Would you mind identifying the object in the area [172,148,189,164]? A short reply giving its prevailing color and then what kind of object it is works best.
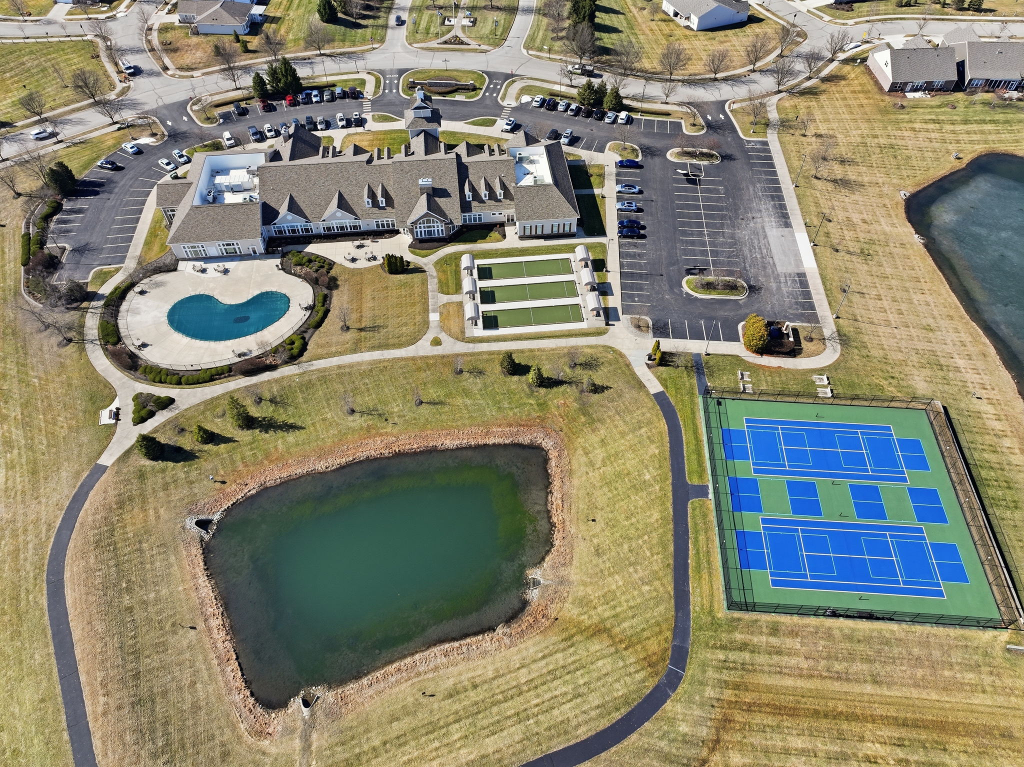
white car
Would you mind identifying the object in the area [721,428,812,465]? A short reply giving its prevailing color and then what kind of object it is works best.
blue sports court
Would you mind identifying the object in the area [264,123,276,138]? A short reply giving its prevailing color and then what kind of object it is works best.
white vehicle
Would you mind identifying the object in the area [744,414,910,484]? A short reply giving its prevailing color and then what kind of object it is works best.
blue tennis court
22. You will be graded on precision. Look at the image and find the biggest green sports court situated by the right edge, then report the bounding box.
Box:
[699,396,1005,628]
